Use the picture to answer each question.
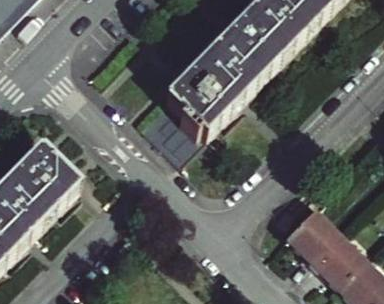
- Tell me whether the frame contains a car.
Yes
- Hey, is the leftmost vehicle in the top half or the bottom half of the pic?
top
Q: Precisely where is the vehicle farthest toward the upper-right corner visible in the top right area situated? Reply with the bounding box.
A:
[362,56,380,76]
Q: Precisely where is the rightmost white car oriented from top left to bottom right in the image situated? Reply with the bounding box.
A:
[202,259,220,278]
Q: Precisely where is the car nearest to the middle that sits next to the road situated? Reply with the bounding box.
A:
[175,178,194,196]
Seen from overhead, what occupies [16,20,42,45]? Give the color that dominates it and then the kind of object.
white vehicle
